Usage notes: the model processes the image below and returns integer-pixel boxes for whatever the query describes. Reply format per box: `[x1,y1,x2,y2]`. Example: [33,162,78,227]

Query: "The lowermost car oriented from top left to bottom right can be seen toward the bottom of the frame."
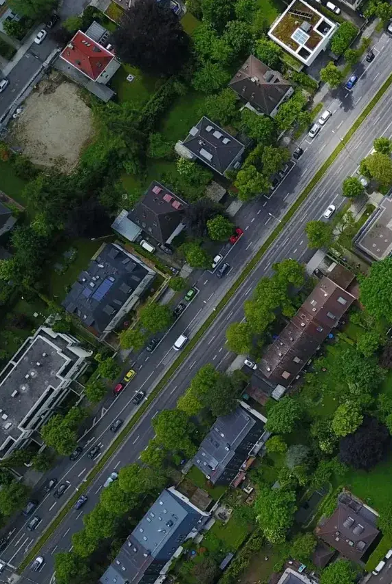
[242,357,258,370]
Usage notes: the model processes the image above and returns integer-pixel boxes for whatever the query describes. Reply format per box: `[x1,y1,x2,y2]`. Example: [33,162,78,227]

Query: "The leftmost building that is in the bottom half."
[0,325,101,468]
